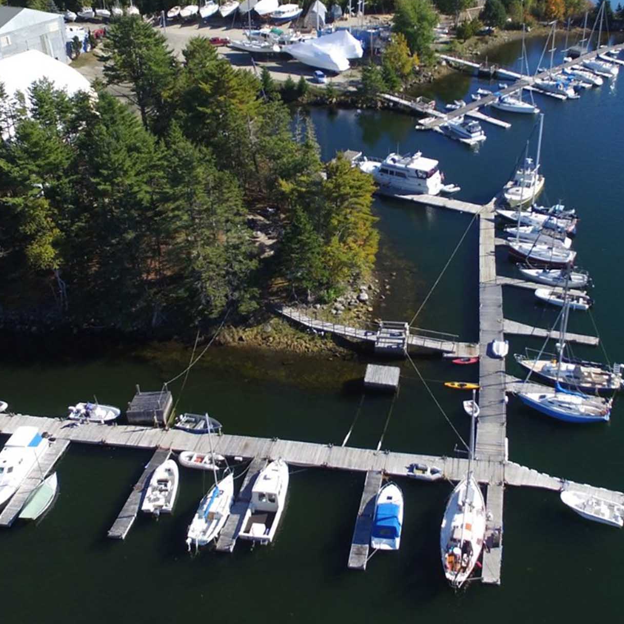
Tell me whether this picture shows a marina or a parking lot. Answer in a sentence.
It's a marina.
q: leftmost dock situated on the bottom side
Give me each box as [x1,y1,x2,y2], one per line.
[0,440,70,529]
